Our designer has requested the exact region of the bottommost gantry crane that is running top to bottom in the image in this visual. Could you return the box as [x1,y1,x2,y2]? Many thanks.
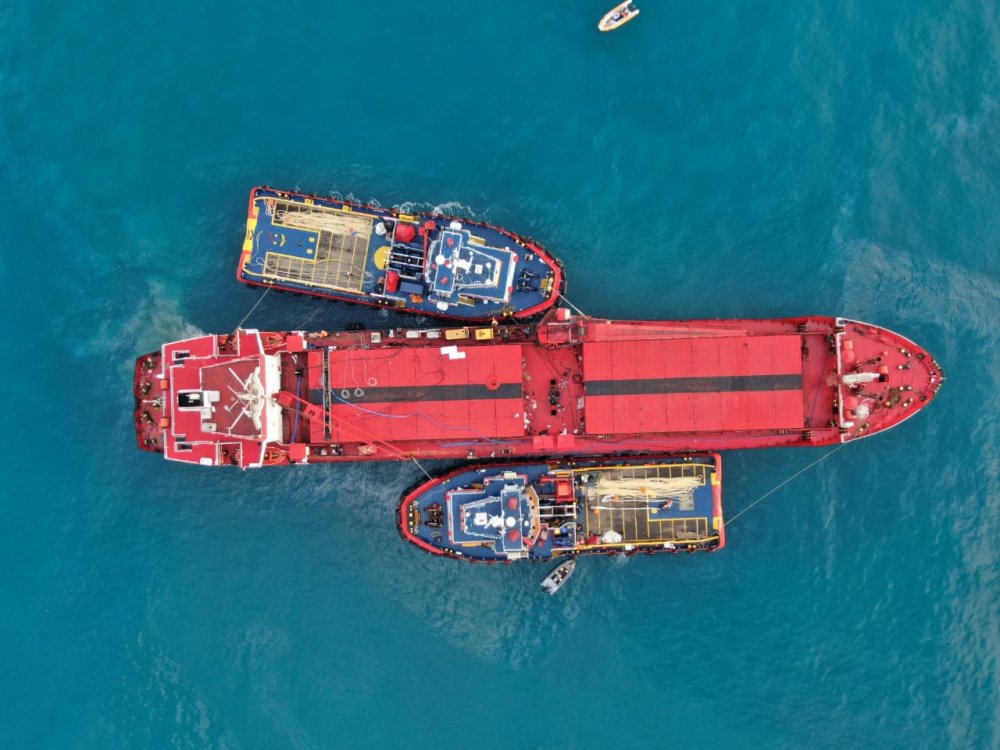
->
[322,344,340,441]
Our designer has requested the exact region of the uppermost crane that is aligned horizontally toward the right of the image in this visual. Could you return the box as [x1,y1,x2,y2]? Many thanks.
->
[536,309,754,348]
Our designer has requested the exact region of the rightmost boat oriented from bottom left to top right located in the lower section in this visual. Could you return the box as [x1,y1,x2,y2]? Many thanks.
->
[538,559,577,596]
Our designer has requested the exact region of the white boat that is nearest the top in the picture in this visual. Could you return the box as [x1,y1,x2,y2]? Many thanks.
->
[599,0,641,30]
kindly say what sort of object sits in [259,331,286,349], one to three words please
boat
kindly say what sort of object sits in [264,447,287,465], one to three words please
boat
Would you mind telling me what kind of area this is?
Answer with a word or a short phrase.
port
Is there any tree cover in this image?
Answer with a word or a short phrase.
No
